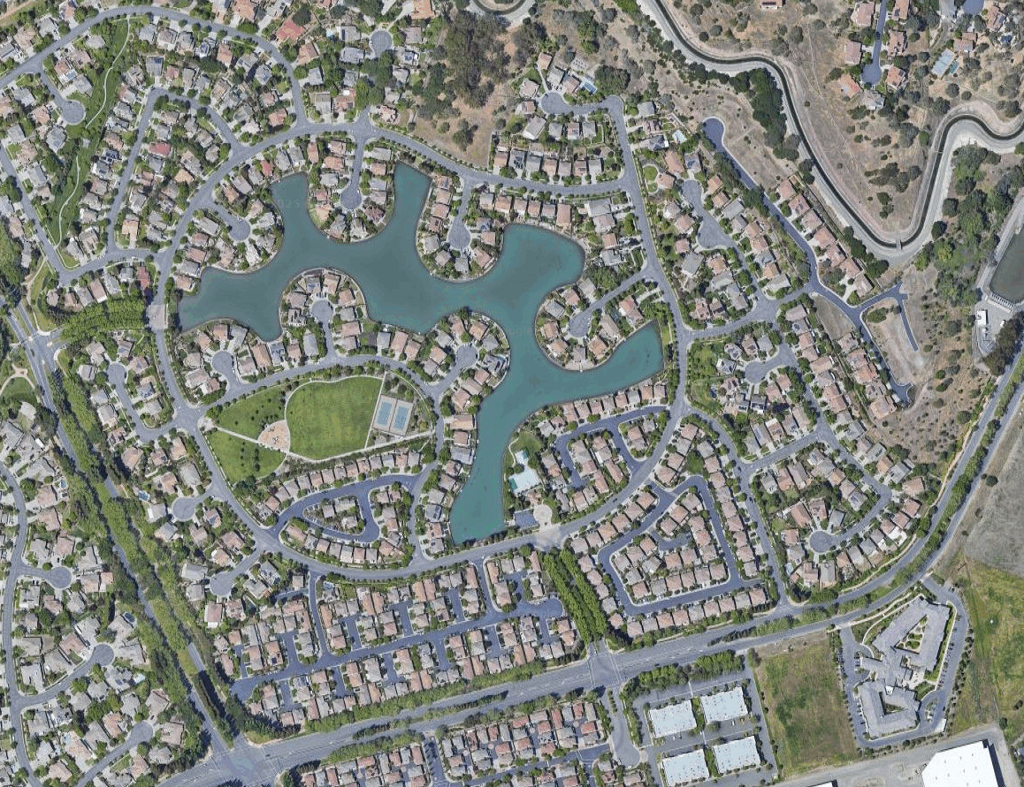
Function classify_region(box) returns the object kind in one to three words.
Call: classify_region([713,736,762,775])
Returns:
building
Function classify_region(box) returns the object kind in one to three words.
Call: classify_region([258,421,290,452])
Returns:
playground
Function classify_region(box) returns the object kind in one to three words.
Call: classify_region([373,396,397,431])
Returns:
tennis court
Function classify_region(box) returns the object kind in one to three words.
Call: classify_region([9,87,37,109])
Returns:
house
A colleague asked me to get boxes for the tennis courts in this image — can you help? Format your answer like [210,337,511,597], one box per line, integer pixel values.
[932,48,956,77]
[373,396,397,431]
[389,401,413,436]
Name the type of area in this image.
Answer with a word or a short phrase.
residential area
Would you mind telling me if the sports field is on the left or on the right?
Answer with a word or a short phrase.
left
